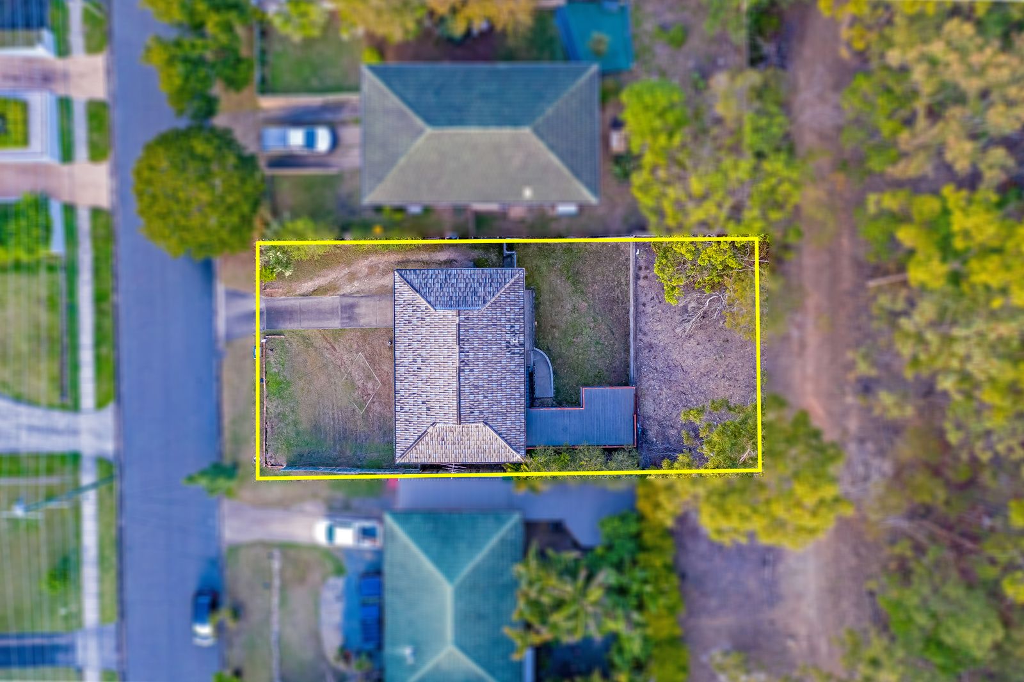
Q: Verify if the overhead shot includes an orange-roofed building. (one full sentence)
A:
No, I find no orange-roofed building anywhere in the image.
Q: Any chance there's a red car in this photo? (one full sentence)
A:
No, the picture doesn't show any red car.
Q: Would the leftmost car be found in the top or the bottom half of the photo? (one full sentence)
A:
Seen from above, the leftmost car lies in the bottom half of the view.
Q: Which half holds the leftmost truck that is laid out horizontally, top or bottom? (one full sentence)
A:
You can find the leftmost truck that is laid out horizontally in the top half.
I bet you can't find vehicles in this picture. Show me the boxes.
[316,517,382,551]
[190,585,223,644]
[260,122,334,155]
[354,570,382,644]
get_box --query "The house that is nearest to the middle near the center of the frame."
[393,267,526,464]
